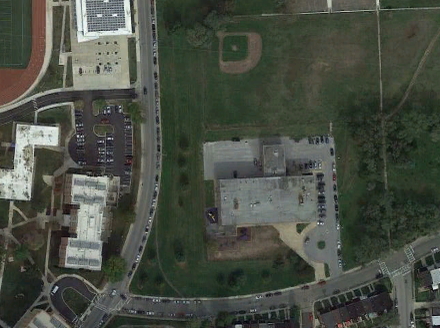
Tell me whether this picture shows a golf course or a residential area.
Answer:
residential area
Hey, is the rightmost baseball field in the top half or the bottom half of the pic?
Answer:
top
